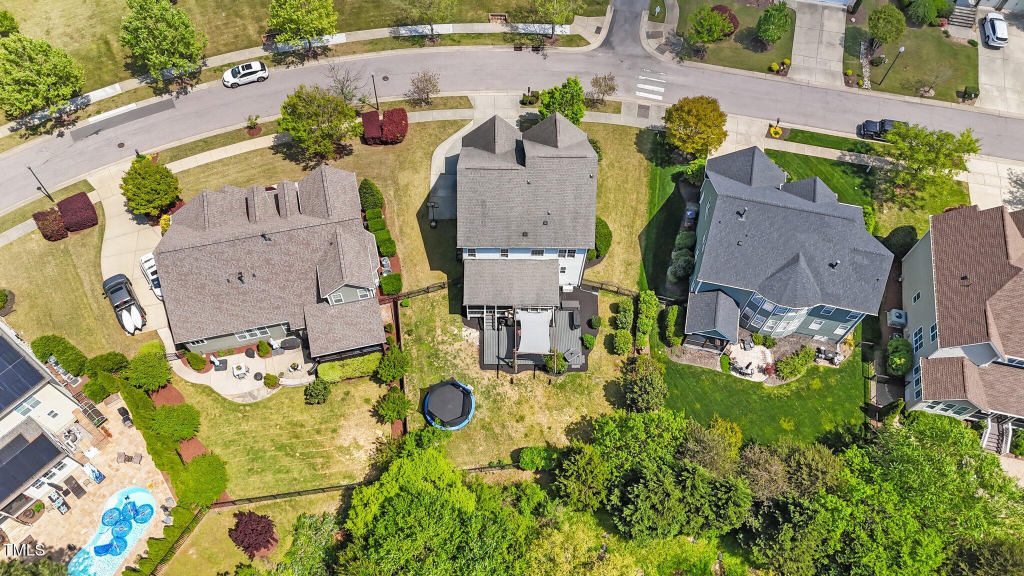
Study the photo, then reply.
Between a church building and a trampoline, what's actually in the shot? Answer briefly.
trampoline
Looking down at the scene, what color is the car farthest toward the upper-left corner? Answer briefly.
white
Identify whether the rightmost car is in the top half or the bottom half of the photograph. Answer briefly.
top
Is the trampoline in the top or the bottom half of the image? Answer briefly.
bottom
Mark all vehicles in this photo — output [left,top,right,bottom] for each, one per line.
[222,64,270,91]
[859,119,911,146]
[101,274,147,335]
[982,16,1009,46]
[140,252,166,302]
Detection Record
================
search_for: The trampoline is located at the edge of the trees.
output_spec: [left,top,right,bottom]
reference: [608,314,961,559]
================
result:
[426,382,476,432]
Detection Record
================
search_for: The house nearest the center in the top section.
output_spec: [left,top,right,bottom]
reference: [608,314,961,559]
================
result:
[457,111,596,331]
